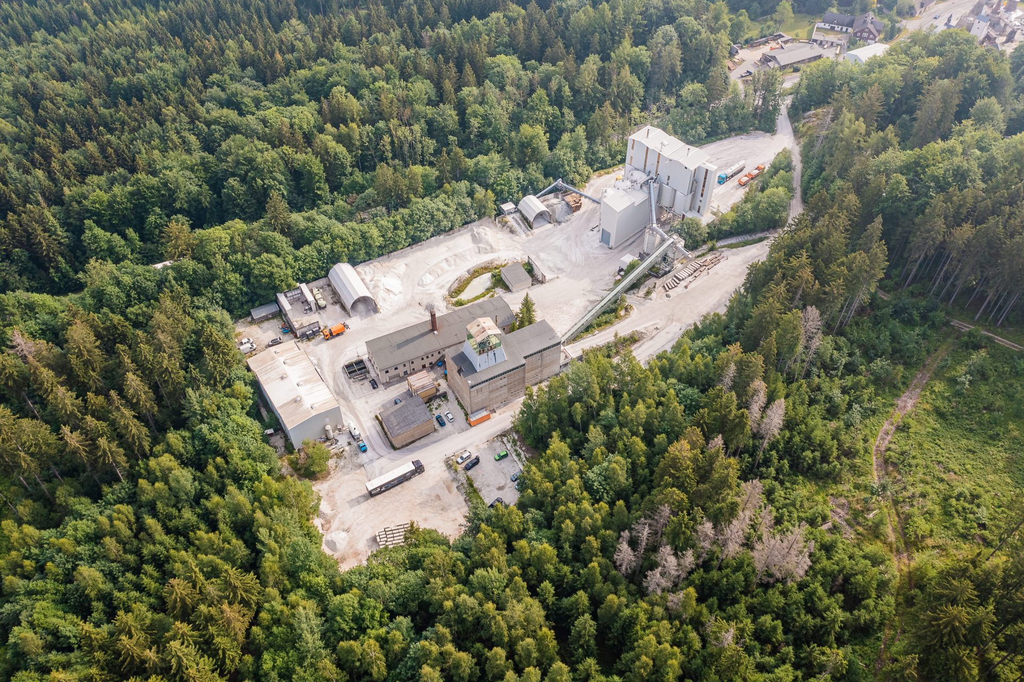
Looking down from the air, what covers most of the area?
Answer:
trees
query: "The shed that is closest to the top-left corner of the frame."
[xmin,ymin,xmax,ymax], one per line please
[248,296,279,321]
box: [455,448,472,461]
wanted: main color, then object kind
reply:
white vehicle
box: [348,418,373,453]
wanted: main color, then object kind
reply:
white truck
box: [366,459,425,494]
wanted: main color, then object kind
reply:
white truck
